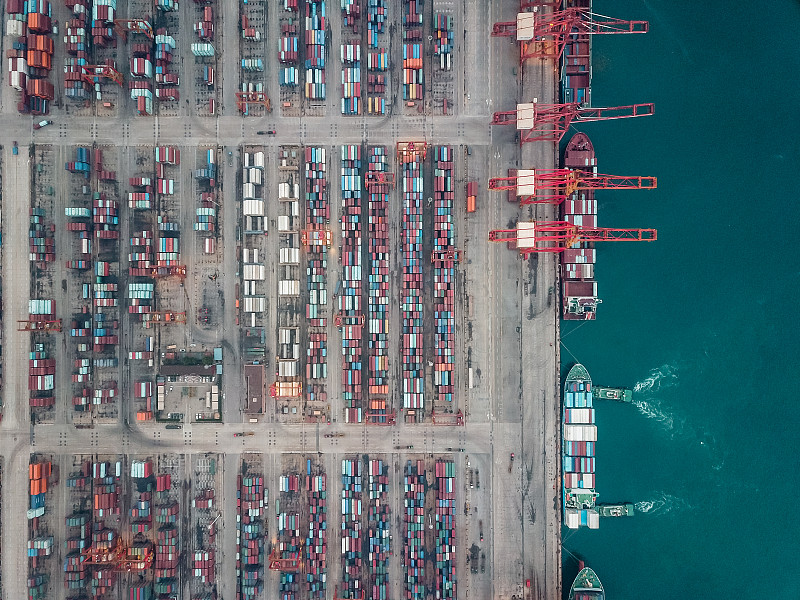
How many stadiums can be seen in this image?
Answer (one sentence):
The count of stadiums is 0.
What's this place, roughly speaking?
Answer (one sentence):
It's a port.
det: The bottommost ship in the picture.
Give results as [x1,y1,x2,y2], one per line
[566,555,607,600]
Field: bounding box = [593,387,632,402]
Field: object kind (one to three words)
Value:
boat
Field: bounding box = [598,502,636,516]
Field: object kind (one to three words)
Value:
boat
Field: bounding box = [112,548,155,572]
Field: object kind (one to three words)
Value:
container crane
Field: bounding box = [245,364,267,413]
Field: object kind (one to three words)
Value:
building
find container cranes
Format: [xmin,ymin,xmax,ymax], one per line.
[112,19,155,41]
[12,319,62,331]
[430,250,466,263]
[362,173,397,190]
[490,216,659,255]
[395,141,429,160]
[145,266,188,279]
[331,313,366,327]
[490,101,656,149]
[266,545,303,572]
[78,541,124,564]
[232,92,270,112]
[77,65,123,86]
[269,381,306,398]
[145,311,188,324]
[432,408,468,424]
[297,230,334,245]
[490,9,649,68]
[490,165,659,208]
[112,548,155,572]
[363,408,397,424]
